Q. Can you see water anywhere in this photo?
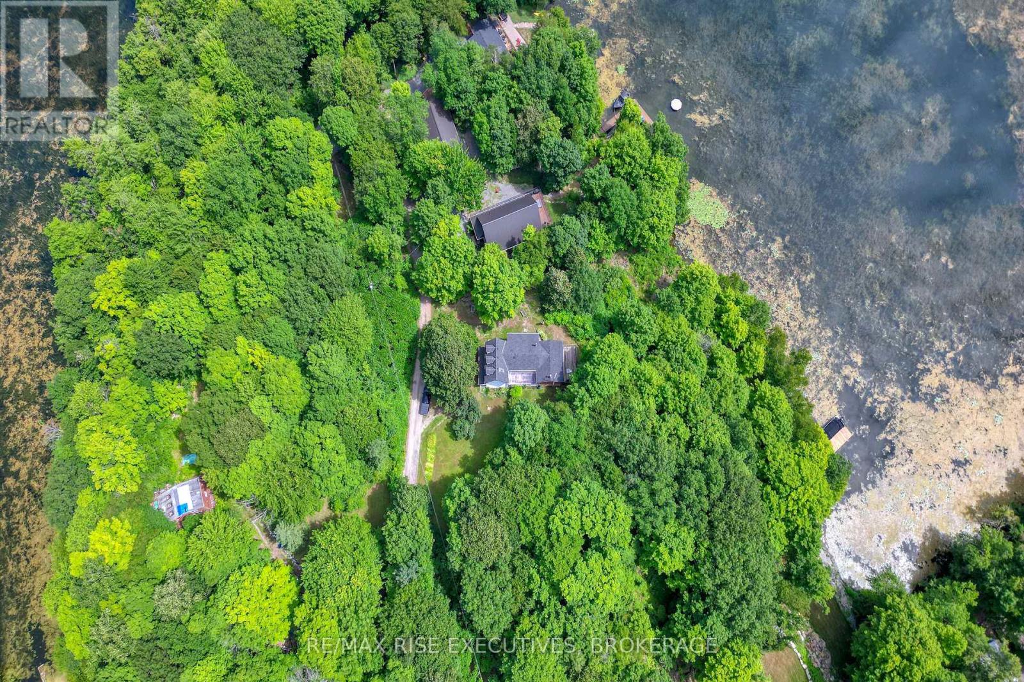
Yes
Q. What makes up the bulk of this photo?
trees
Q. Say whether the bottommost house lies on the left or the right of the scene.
left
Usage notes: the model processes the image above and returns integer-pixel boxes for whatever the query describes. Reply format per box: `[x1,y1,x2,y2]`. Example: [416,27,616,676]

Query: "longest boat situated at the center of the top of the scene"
[611,87,629,110]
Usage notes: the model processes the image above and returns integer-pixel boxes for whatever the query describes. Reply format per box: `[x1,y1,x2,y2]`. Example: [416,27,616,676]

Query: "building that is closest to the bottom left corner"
[154,478,215,528]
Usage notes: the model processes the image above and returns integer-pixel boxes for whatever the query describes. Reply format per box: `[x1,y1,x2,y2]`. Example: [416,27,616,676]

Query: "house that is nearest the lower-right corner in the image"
[478,333,577,391]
